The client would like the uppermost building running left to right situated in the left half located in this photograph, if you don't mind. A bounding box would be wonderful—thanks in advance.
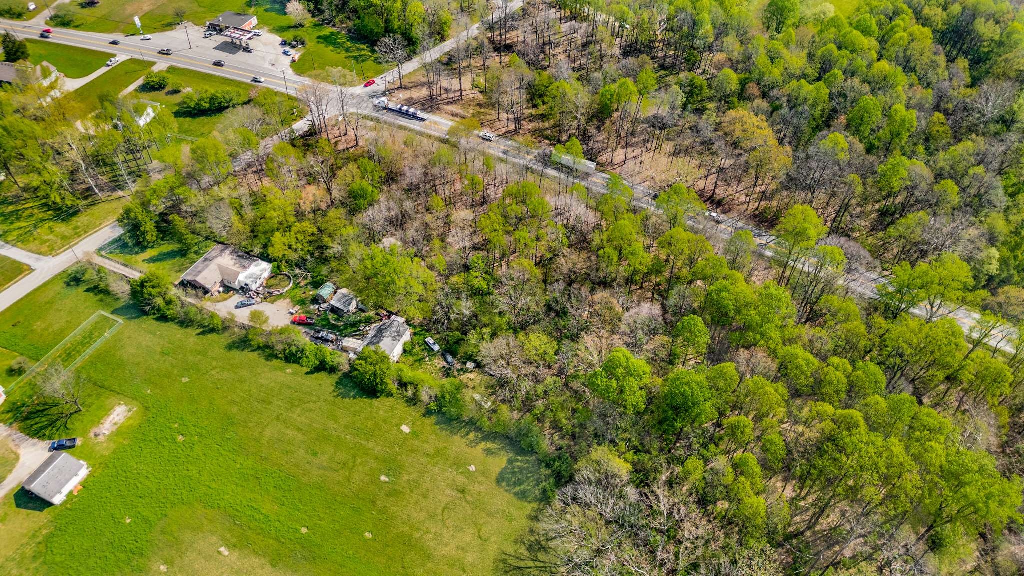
[210,11,255,33]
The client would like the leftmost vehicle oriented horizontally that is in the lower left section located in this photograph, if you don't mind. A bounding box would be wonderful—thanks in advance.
[48,437,79,451]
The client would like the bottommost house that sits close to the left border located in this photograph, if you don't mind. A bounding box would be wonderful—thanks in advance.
[20,450,93,507]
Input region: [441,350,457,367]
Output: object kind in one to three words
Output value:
car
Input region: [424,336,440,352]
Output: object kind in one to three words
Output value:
car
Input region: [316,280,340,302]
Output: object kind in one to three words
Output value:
shed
